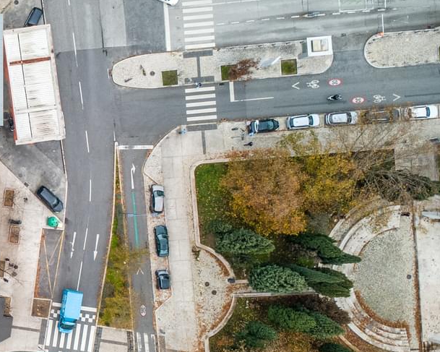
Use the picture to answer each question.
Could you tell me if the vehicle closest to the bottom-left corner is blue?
Yes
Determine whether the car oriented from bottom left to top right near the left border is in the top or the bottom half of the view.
top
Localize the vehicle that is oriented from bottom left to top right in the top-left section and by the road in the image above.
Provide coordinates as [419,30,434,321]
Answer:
[21,1,47,29]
